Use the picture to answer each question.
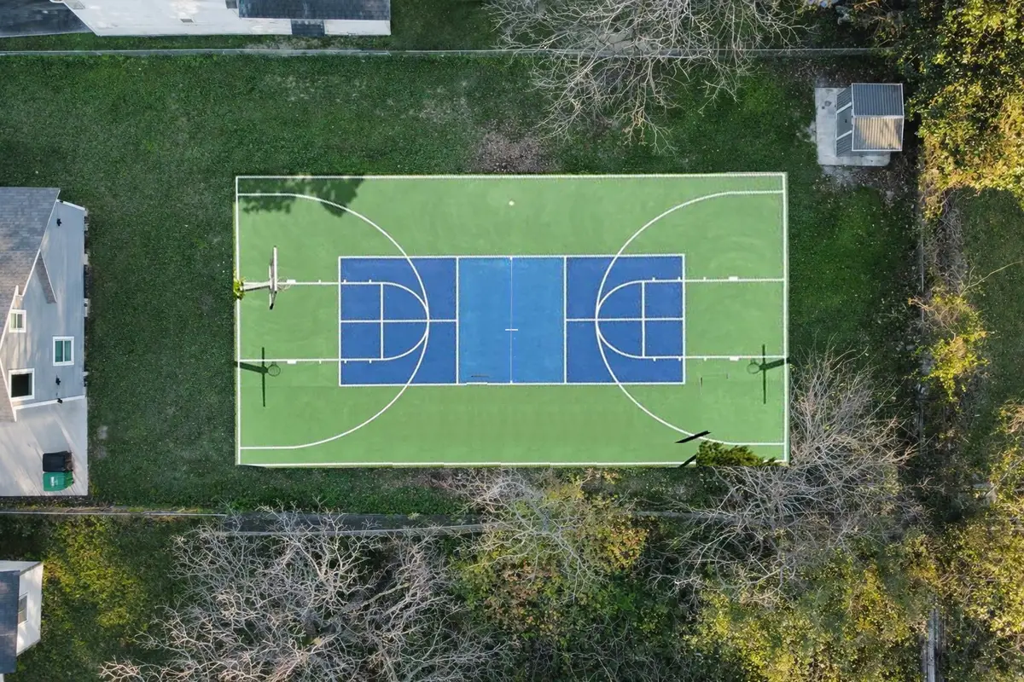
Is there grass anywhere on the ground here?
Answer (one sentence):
Yes, some grass is visible.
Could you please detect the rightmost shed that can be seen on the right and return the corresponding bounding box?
[836,81,907,155]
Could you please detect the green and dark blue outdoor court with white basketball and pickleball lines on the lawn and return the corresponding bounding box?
[234,172,791,467]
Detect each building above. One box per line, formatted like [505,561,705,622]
[70,0,391,35]
[836,81,907,155]
[0,561,44,676]
[0,187,90,422]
